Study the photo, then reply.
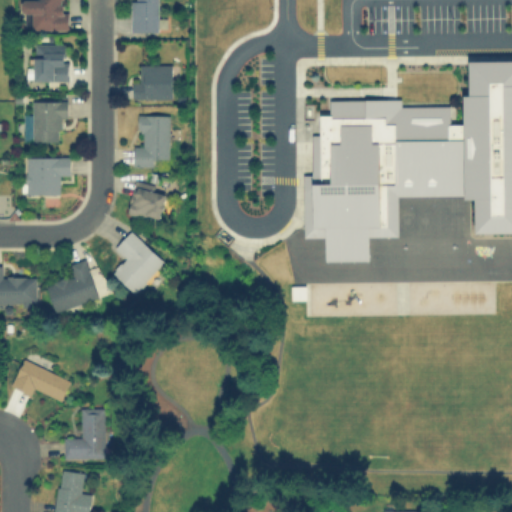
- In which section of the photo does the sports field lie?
bottom right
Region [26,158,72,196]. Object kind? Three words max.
house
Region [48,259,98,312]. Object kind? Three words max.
house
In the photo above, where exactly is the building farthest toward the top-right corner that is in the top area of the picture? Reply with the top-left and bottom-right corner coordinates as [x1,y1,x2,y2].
[305,62,512,262]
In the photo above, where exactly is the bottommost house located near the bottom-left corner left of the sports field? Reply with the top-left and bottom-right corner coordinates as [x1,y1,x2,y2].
[55,470,92,512]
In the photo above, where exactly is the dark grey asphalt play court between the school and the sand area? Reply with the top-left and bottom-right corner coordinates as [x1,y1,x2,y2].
[286,190,512,283]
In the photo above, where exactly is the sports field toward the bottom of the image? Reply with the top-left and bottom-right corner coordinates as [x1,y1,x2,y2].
[255,282,512,512]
